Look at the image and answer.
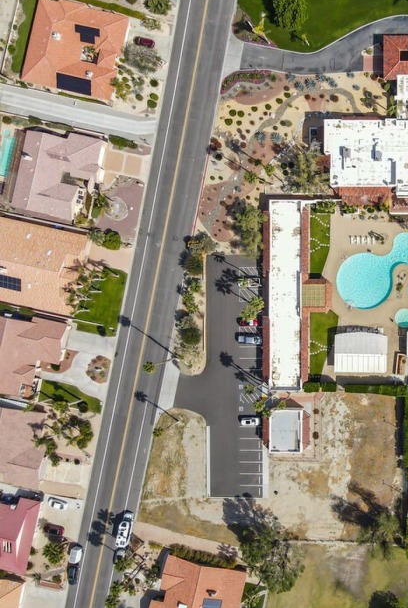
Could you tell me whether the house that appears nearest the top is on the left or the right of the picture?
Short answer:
left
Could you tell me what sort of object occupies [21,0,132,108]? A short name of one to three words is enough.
house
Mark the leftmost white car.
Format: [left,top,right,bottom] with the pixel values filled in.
[44,497,66,510]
